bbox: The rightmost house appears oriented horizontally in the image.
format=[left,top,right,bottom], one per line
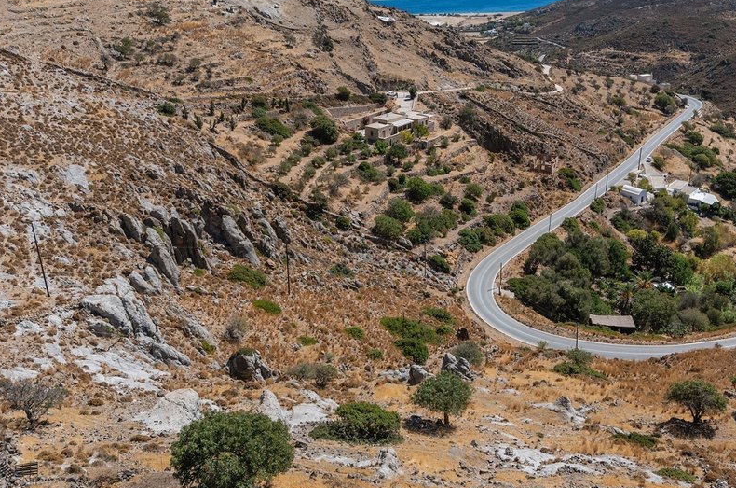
[666,181,729,206]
